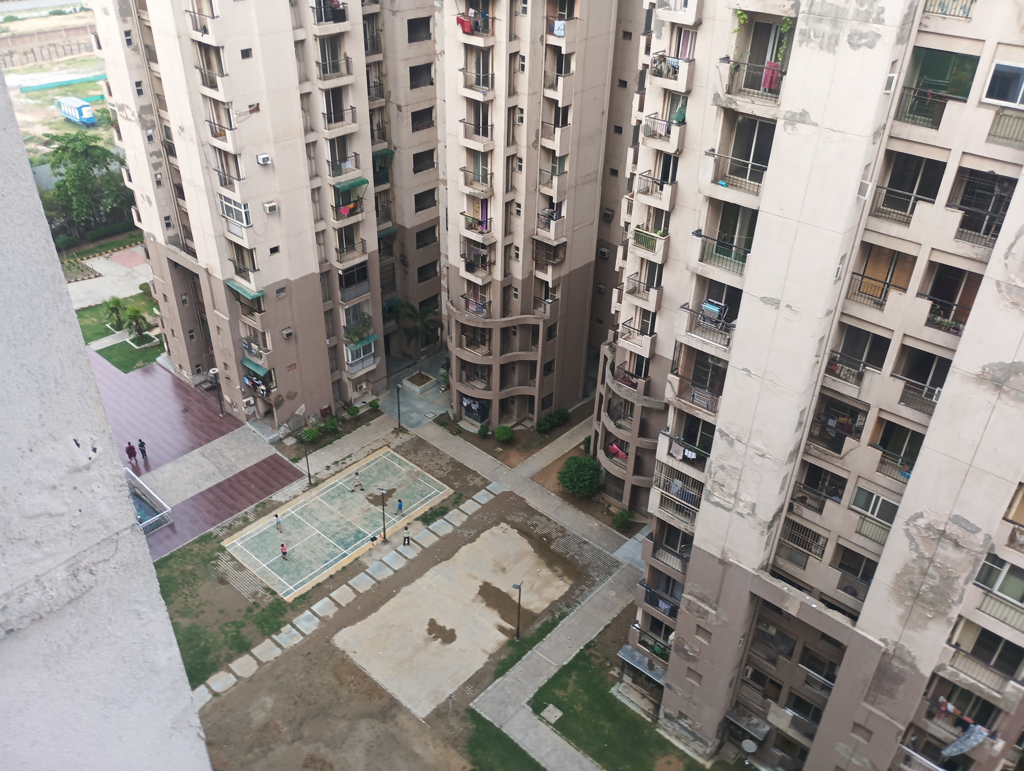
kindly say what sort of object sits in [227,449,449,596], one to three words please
sports court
